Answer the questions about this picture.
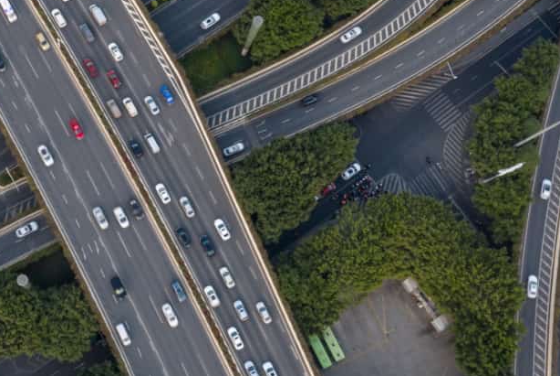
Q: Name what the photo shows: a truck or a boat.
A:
truck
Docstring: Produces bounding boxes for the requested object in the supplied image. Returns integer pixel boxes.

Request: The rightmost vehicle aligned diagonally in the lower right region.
[407,280,448,331]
